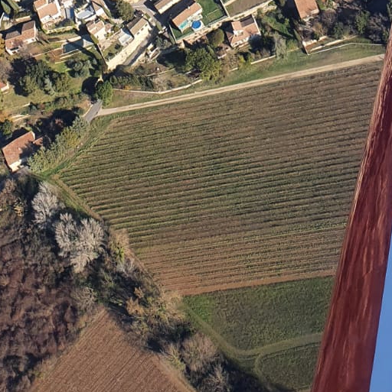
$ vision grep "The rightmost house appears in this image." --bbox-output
[292,0,327,31]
